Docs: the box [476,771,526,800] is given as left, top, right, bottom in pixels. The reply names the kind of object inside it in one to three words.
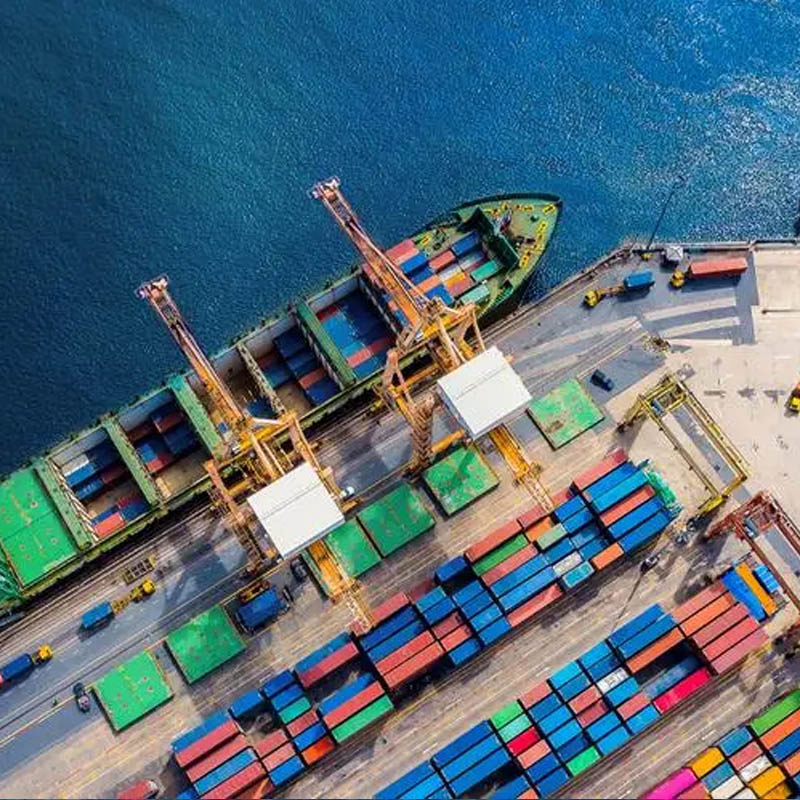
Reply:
shipping container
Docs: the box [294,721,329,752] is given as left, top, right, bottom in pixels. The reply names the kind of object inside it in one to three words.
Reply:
shipping container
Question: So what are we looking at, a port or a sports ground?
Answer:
port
